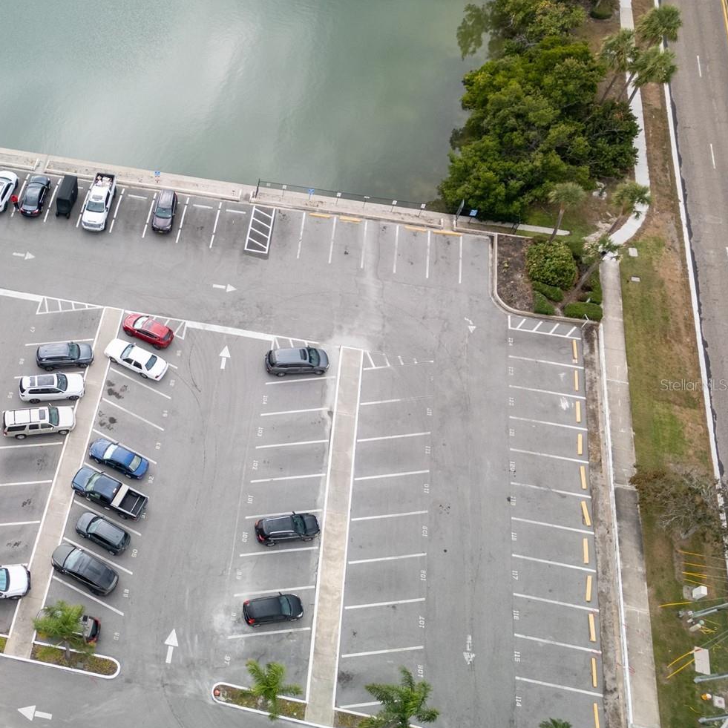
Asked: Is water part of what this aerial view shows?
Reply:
Yes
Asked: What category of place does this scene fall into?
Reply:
parking lot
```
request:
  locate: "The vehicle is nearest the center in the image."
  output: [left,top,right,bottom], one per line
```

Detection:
[264,345,330,378]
